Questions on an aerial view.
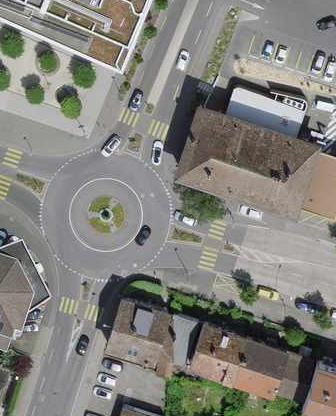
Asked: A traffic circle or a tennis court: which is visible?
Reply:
traffic circle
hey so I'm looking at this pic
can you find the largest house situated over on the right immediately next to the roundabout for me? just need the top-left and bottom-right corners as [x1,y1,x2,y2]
[172,102,320,222]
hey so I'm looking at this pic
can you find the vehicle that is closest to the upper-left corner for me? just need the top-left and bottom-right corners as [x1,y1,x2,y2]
[128,88,143,110]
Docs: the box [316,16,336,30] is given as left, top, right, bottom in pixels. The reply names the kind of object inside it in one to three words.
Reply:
car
